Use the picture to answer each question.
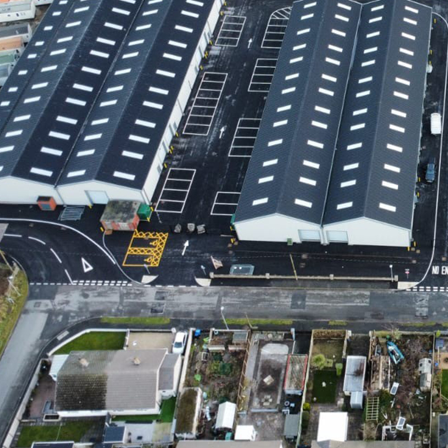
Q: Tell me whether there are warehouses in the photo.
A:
Yes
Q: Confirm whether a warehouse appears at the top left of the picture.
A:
Yes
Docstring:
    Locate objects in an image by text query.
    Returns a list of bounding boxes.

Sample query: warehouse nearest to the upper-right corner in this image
[233,0,434,249]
